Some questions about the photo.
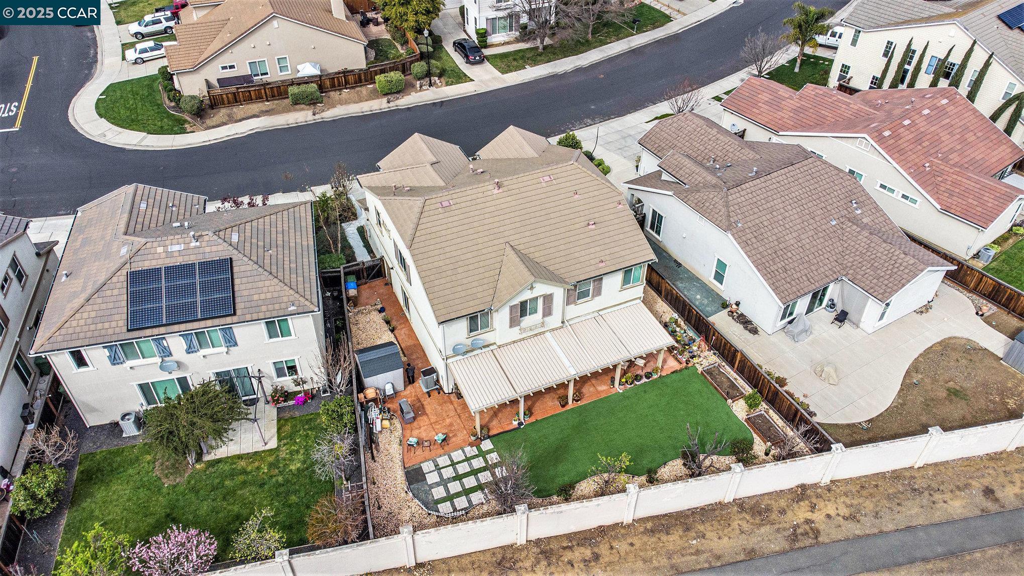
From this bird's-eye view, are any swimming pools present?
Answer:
No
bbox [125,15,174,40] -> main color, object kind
white car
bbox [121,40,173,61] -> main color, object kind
white car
